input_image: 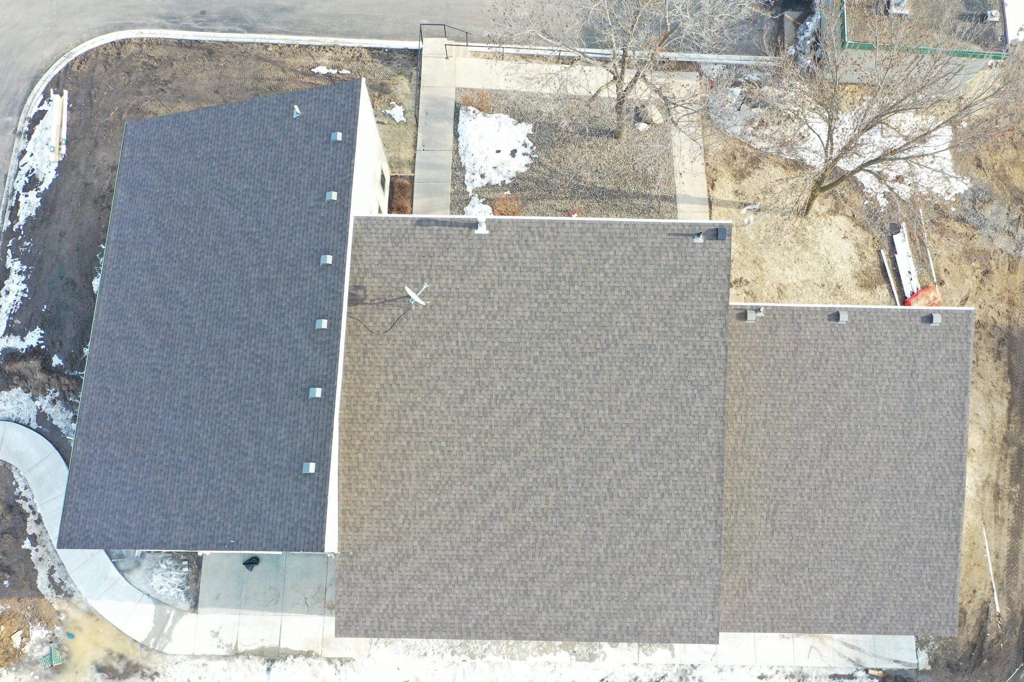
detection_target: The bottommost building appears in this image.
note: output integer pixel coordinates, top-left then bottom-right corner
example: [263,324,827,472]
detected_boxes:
[55,77,977,645]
